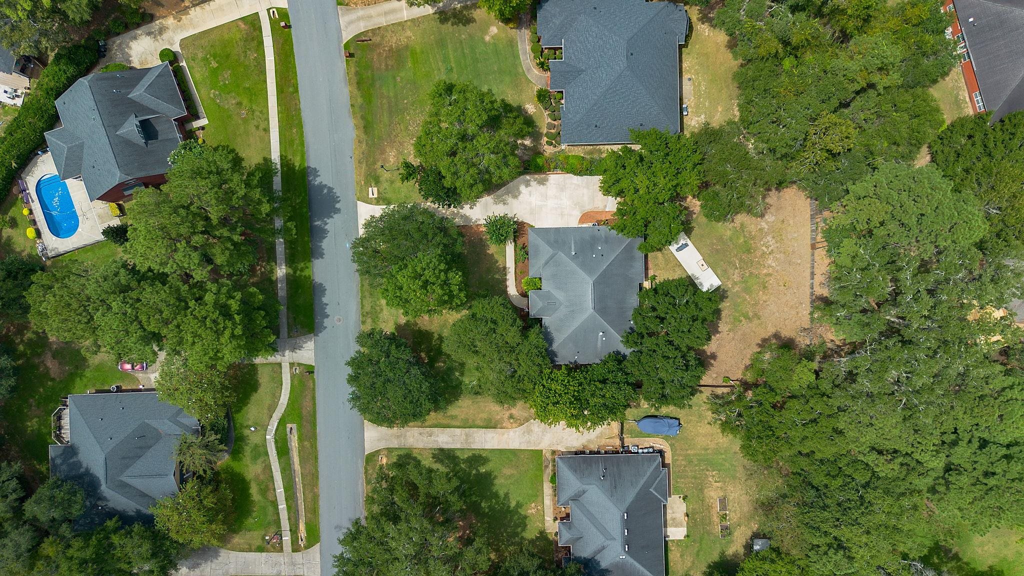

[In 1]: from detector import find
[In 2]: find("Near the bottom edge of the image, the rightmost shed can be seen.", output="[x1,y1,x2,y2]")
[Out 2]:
[748,533,771,553]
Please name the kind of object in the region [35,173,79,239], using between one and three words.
swimming pool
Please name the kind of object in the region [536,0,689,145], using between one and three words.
house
